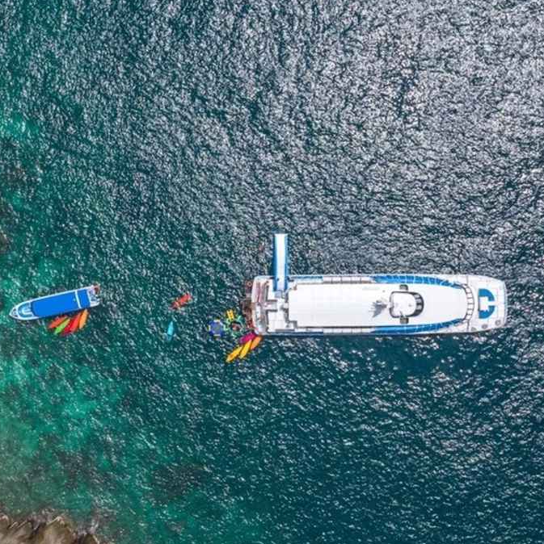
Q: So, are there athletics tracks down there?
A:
No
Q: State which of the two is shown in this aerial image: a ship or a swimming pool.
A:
ship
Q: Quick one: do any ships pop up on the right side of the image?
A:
Yes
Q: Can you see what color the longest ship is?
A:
white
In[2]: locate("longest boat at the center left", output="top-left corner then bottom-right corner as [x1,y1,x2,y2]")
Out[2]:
[9,282,105,319]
